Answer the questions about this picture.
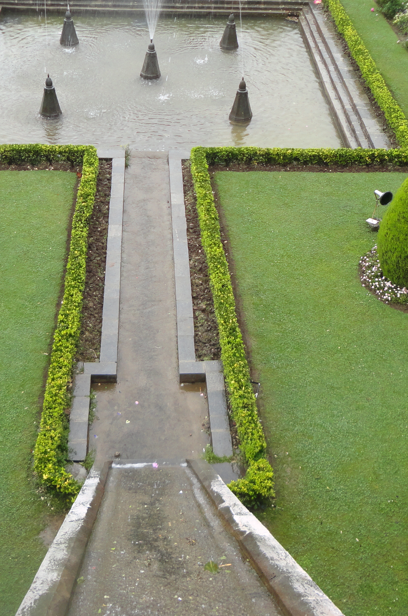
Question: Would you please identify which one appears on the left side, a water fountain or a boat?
water fountain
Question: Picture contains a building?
No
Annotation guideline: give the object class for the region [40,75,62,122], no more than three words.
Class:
fountain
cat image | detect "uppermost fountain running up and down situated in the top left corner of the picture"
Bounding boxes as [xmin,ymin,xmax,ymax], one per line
[60,9,79,49]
